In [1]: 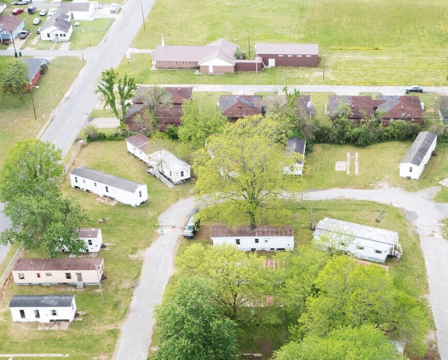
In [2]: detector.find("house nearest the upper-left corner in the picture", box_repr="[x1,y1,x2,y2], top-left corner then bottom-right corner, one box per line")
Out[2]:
[0,10,29,43]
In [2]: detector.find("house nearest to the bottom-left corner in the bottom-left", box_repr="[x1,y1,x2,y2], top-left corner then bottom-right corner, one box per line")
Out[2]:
[7,295,74,322]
